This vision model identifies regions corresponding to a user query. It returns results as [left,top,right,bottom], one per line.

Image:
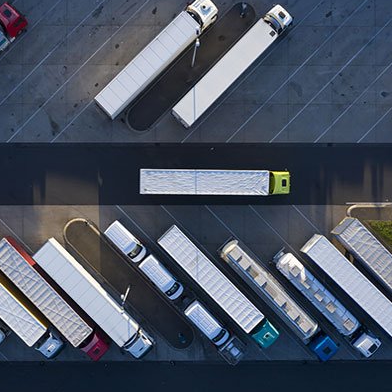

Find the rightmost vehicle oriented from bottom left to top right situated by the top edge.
[171,3,294,129]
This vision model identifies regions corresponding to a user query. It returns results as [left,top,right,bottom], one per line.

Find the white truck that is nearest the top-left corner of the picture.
[95,0,218,119]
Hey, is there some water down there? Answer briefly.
No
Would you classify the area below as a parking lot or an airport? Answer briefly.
parking lot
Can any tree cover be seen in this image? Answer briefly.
No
